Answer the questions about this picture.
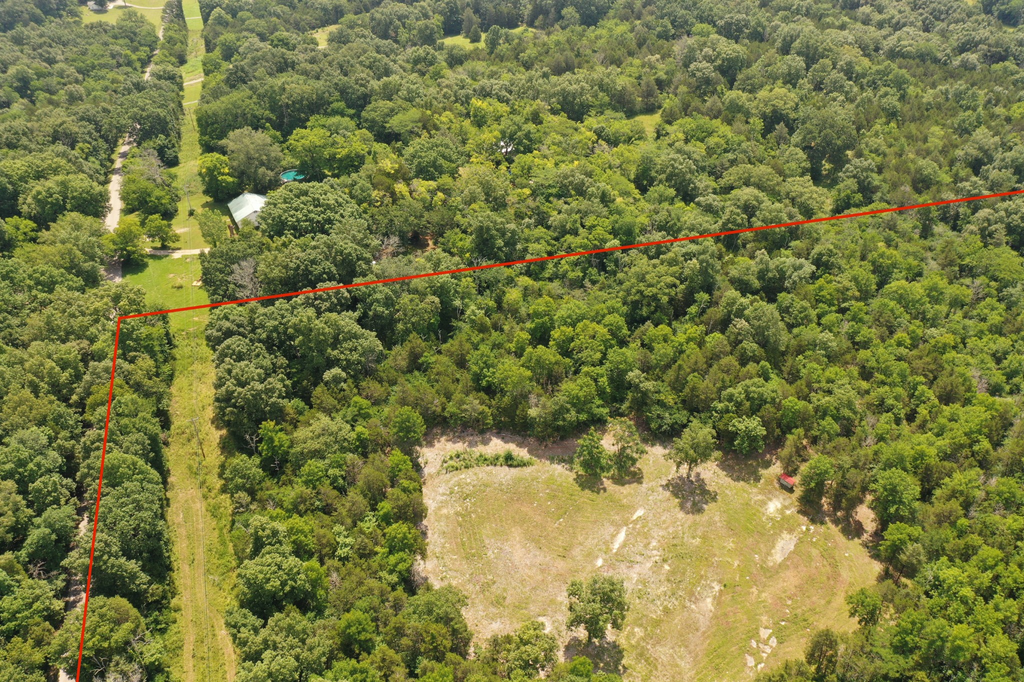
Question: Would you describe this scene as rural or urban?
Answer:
rural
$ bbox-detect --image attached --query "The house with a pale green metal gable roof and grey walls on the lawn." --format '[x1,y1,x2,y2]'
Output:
[228,192,273,226]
